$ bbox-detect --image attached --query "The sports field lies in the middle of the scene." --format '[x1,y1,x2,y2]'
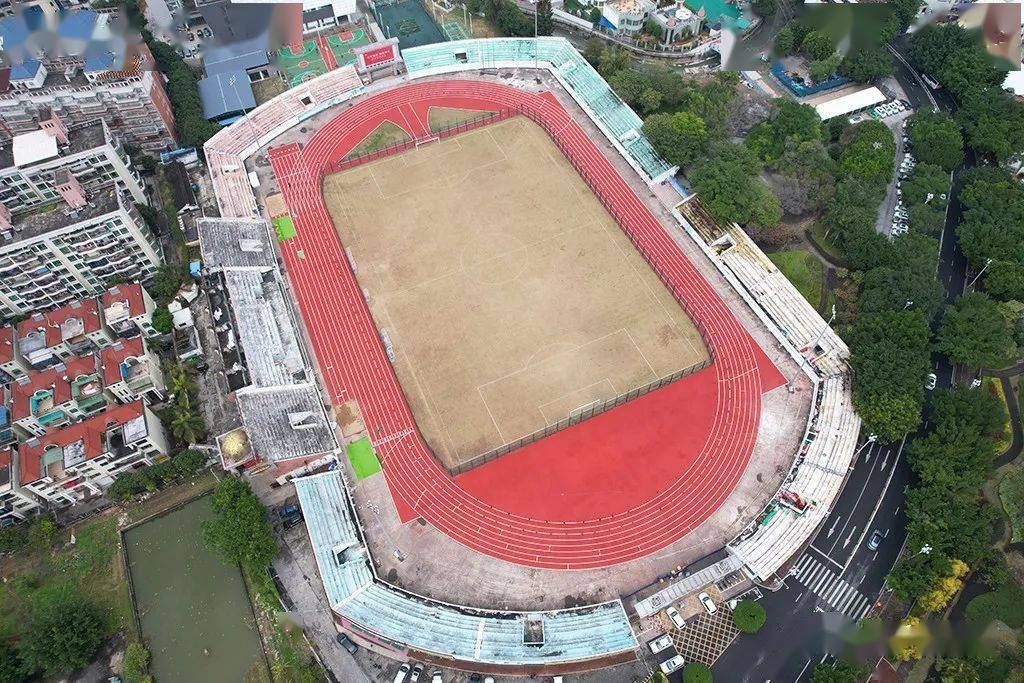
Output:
[318,113,718,477]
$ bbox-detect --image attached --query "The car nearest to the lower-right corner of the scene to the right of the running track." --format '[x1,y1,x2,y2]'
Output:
[868,526,887,550]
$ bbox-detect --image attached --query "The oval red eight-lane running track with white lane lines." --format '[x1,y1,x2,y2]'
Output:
[266,80,792,569]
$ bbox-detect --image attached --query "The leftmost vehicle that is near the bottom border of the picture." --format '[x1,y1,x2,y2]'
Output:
[334,631,358,656]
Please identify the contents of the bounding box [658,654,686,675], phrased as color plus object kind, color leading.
white car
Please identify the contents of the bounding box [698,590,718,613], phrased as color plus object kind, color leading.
white car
